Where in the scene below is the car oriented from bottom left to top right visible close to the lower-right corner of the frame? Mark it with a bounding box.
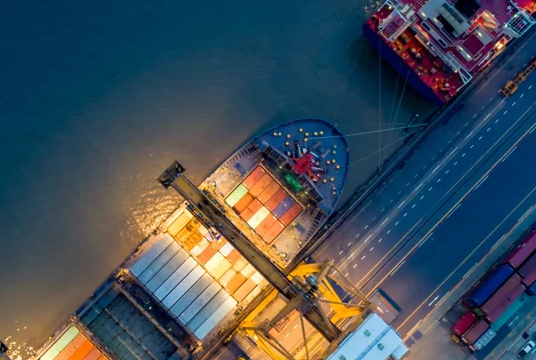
[517,339,535,358]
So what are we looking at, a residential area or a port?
port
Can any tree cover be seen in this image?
No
